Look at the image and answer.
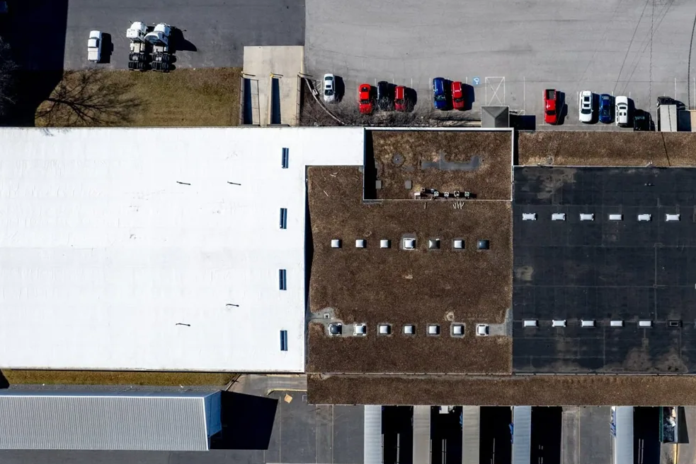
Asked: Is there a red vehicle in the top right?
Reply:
Yes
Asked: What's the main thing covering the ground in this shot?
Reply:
buildings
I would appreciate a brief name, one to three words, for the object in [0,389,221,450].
shed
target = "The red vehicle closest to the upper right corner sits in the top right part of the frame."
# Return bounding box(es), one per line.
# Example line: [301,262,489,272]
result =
[543,88,560,124]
